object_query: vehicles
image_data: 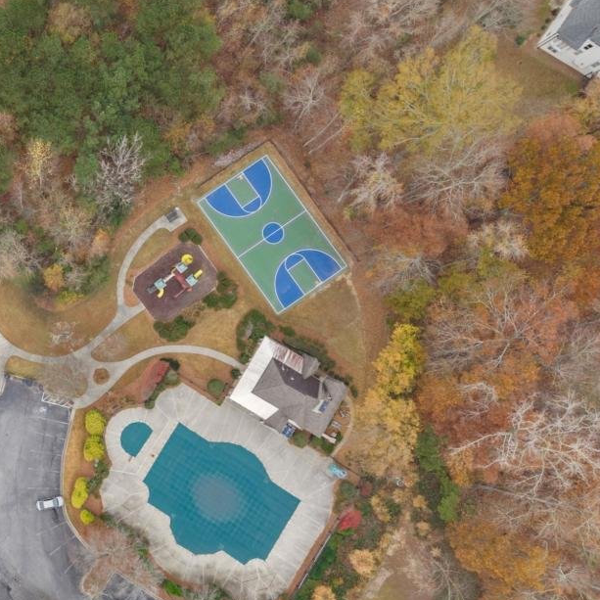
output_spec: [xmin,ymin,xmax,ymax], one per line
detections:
[36,496,64,511]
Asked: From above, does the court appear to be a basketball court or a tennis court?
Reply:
basketball court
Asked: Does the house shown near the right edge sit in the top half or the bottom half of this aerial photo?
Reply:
top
